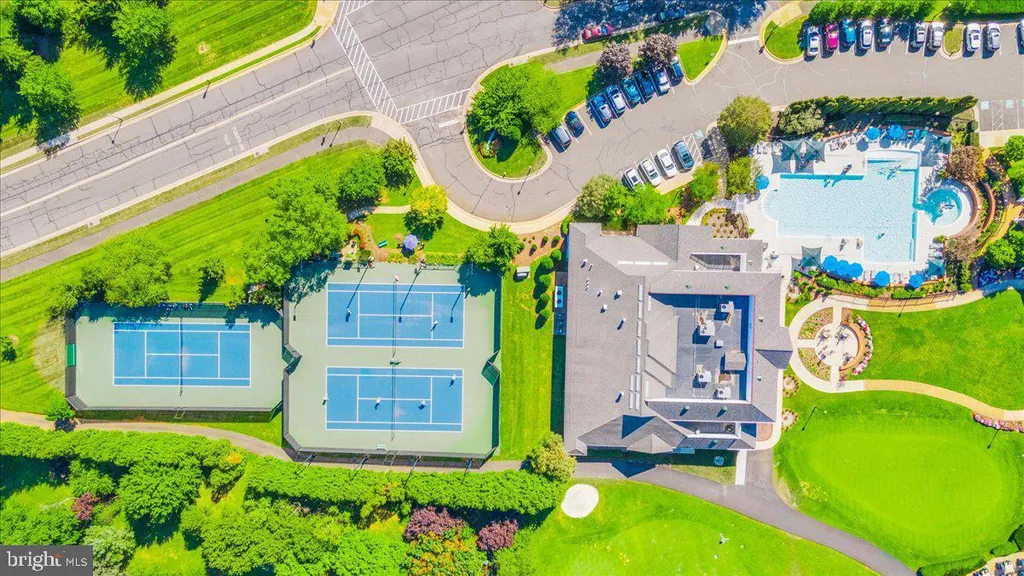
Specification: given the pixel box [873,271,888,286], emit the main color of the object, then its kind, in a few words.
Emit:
blue umbrella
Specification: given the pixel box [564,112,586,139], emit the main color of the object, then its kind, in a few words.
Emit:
blue car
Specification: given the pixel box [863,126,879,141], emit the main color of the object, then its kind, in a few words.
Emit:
blue umbrella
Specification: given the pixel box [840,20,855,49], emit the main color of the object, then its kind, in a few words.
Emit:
blue car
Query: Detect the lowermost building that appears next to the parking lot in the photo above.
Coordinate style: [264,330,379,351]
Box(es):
[562,222,793,455]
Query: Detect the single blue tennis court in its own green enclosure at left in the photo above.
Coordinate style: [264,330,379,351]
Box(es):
[76,304,285,408]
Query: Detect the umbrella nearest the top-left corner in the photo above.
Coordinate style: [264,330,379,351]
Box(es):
[404,234,419,249]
